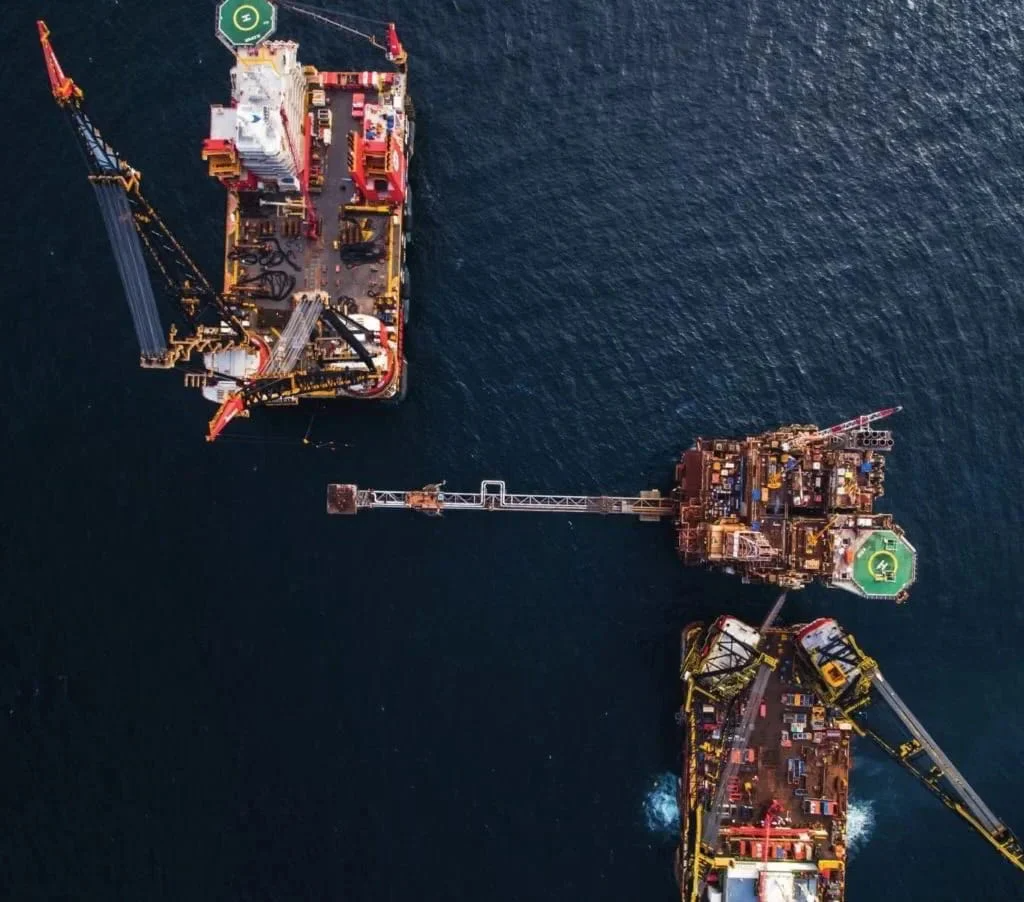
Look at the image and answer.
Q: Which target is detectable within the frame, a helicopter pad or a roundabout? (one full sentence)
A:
Of the two, only a helicopter pad appears.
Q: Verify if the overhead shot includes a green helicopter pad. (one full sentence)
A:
Yes, a green helicopter pad is visible in the scene.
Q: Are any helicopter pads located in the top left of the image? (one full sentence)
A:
Yes, a helicopter pad can be seen in the top left of the image.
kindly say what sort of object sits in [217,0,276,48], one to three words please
helipad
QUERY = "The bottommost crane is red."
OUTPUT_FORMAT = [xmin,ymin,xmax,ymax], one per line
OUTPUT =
[760,795,780,902]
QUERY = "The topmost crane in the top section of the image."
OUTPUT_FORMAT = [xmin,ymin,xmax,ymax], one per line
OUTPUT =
[274,0,409,79]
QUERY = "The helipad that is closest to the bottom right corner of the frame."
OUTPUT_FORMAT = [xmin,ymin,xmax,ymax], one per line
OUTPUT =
[851,524,917,602]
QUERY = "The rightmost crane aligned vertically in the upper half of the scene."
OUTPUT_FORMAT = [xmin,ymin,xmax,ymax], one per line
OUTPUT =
[282,109,319,242]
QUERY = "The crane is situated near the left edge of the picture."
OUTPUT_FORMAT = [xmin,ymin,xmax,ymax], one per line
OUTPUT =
[38,23,281,401]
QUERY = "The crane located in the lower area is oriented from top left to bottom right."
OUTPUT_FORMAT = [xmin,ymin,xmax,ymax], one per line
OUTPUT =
[790,614,1024,878]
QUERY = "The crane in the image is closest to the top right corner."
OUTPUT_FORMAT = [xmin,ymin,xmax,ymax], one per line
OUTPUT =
[781,407,903,450]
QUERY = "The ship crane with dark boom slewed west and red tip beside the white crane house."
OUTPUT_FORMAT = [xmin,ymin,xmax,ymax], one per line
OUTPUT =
[206,292,398,442]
